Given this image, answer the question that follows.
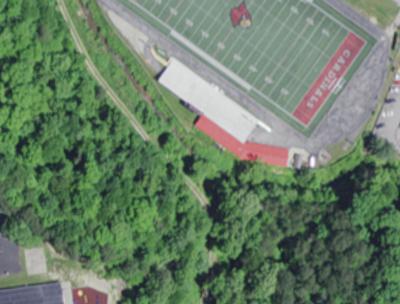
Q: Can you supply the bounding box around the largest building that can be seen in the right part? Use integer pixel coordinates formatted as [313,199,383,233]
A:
[196,114,288,166]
